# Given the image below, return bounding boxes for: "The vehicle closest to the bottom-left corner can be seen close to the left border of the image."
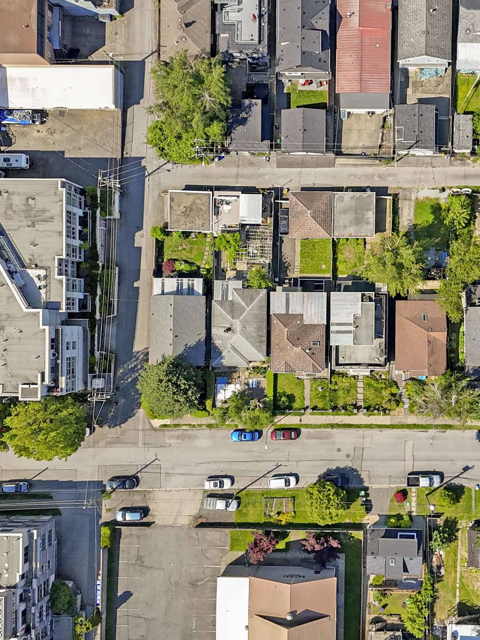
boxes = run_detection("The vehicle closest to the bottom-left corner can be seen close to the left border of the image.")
[1,480,31,494]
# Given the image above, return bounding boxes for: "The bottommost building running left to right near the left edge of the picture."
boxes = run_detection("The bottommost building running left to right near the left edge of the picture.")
[0,65,123,117]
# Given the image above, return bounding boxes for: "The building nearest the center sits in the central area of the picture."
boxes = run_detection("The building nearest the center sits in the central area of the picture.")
[211,281,267,367]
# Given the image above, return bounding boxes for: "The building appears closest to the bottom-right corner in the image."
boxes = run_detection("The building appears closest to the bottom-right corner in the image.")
[445,603,480,640]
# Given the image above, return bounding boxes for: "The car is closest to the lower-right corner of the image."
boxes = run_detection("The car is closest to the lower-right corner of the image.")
[405,473,443,488]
